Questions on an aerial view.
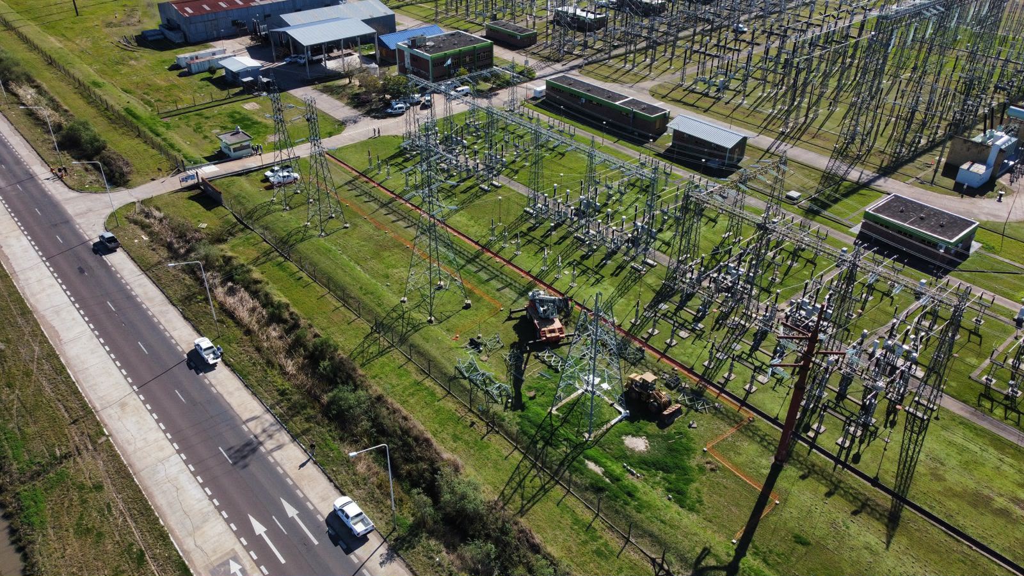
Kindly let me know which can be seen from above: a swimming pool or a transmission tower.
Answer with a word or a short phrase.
transmission tower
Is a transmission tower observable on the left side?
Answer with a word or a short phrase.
Yes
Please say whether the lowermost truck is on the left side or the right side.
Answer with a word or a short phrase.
left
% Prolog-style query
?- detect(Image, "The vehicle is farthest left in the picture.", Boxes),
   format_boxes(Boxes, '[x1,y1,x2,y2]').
[98,234,121,253]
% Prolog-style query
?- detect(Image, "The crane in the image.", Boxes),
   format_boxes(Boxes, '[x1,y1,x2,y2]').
[503,289,586,354]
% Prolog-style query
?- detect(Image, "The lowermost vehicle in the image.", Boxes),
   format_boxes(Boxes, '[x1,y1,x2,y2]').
[331,500,378,545]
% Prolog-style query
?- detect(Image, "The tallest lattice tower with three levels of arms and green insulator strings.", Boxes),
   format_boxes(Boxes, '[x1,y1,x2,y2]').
[391,114,474,322]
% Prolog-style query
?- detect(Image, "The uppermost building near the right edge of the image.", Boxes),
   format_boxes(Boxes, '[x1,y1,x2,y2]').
[859,194,979,266]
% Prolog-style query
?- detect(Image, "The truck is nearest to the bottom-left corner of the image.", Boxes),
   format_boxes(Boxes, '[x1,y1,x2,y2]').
[193,340,222,370]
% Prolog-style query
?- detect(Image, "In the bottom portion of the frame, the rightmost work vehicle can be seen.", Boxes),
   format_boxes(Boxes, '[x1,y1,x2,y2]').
[619,371,686,432]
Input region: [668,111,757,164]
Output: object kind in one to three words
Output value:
building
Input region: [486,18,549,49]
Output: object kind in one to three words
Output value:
shed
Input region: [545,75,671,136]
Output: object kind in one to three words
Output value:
building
